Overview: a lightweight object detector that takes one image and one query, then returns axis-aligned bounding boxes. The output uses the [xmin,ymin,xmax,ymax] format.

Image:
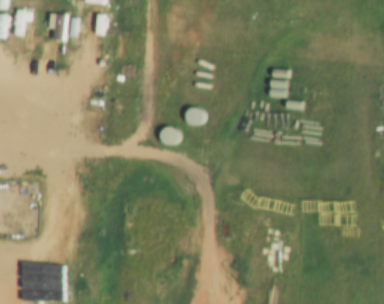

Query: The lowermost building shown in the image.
[22,288,68,304]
